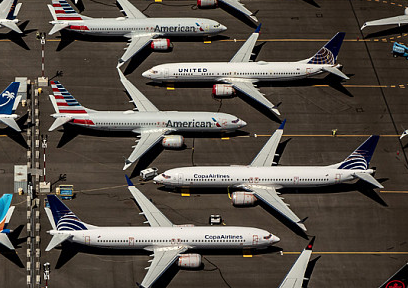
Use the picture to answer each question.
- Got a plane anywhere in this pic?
Yes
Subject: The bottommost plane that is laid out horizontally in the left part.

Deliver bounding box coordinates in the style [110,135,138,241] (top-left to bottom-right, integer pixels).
[44,171,279,288]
